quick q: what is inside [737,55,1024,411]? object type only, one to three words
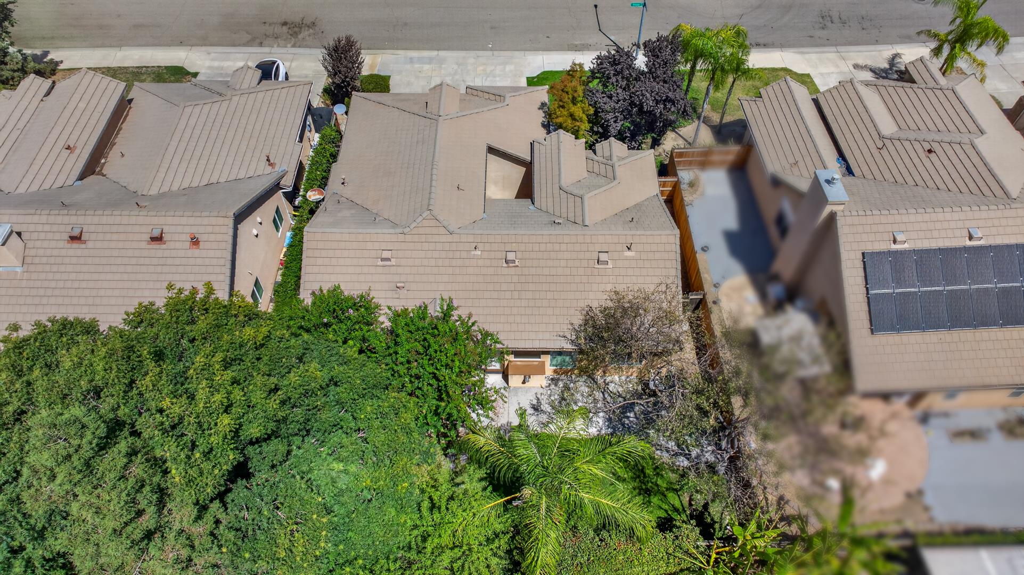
house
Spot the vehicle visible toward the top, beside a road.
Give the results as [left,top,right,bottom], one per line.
[257,55,294,83]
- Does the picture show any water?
No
